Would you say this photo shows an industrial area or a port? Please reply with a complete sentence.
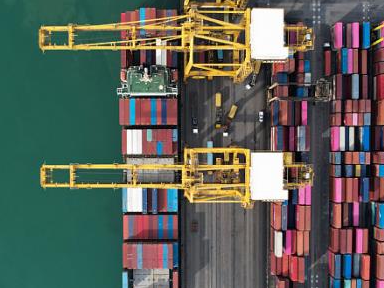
The area seen from above is a port.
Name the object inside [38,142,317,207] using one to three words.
container crane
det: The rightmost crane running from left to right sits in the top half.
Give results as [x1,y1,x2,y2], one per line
[266,81,333,108]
